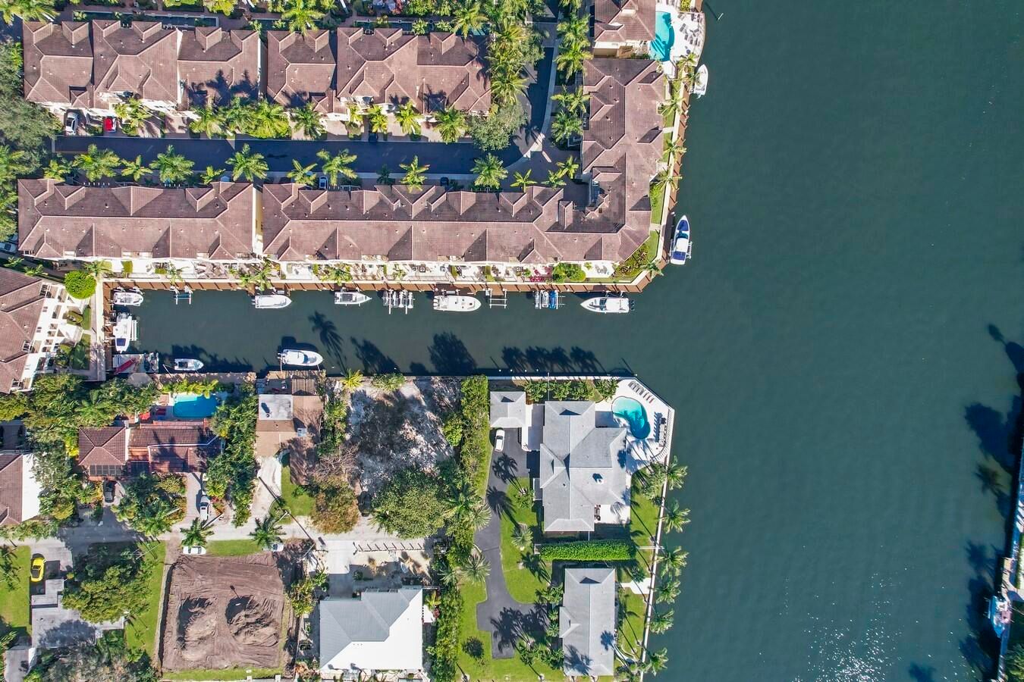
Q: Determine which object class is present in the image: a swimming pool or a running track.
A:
swimming pool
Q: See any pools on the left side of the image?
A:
Yes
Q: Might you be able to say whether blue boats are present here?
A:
Yes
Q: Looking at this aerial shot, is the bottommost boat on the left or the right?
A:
right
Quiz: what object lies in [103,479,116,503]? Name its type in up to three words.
vehicle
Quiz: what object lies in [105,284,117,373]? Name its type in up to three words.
pier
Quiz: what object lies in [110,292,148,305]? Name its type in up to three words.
boat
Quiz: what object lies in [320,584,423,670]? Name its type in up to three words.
house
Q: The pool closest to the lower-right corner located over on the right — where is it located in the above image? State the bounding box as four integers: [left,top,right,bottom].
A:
[612,395,652,441]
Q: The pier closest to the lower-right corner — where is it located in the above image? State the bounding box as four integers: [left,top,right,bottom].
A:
[996,558,1011,601]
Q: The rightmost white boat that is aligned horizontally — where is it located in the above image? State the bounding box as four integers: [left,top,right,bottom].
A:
[582,292,634,313]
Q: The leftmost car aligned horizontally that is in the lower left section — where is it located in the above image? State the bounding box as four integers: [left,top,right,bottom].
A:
[182,544,207,556]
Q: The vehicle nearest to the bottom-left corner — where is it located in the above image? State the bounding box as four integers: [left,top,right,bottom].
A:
[31,556,45,580]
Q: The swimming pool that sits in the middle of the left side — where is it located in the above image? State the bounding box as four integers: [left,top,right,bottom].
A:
[171,394,220,419]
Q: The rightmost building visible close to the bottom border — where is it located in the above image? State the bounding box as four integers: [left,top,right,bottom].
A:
[559,566,615,676]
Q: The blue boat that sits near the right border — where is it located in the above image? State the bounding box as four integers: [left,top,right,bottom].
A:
[986,586,1008,632]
